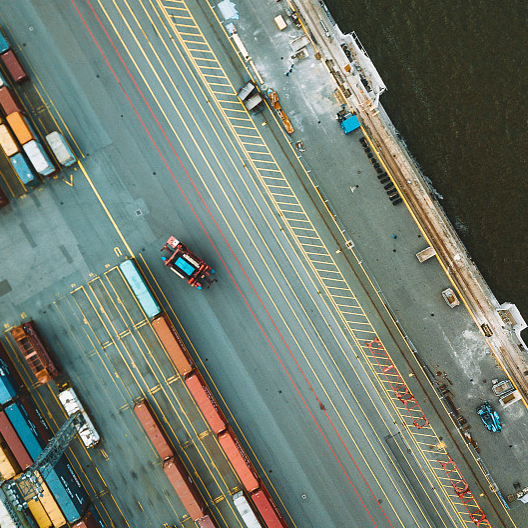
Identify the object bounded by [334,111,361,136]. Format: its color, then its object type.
blue truck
